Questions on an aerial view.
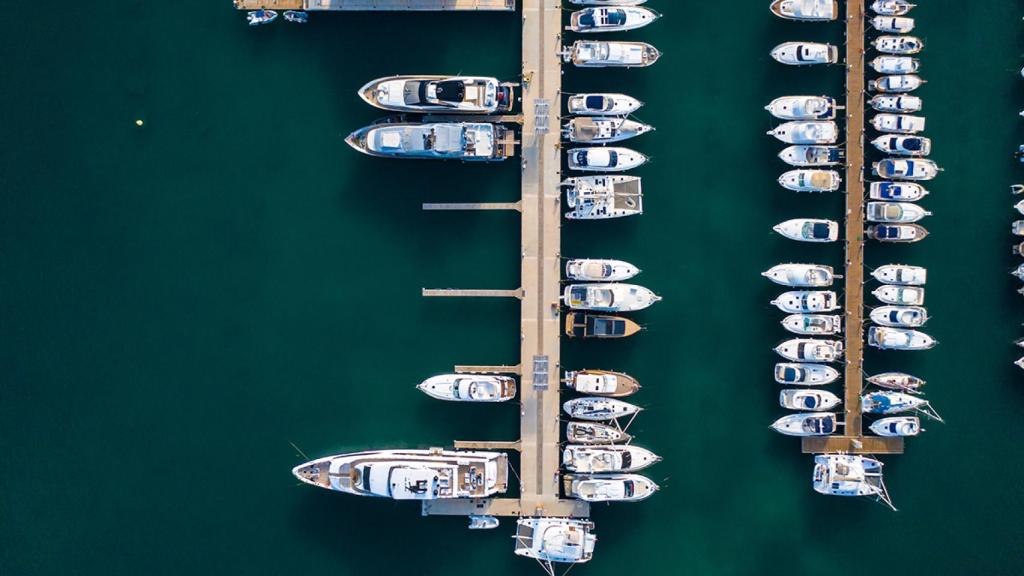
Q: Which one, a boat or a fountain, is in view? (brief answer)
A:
boat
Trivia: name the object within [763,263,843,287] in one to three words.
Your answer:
boat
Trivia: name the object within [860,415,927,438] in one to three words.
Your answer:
boat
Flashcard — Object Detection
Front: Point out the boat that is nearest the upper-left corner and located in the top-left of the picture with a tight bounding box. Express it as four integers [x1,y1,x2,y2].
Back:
[247,11,277,25]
